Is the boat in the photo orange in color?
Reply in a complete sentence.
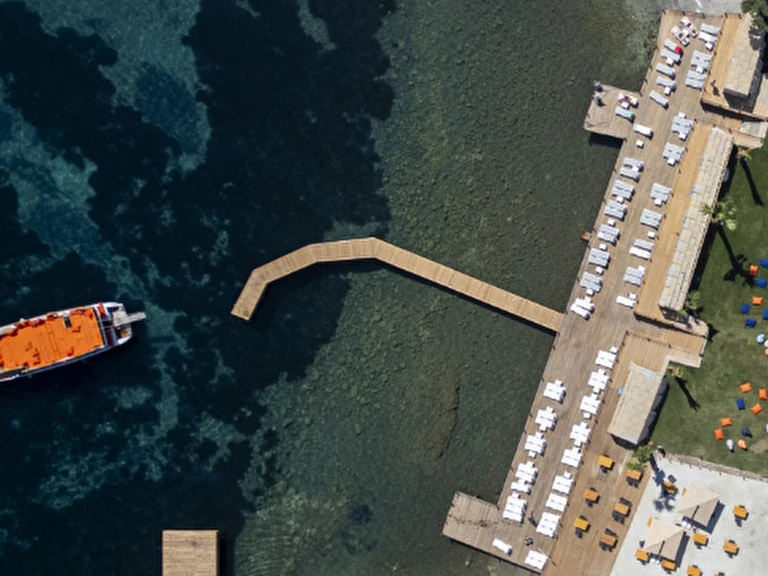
Yes, orange is the color of the boat.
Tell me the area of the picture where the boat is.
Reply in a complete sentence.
You can find the boat in the left area of the picture.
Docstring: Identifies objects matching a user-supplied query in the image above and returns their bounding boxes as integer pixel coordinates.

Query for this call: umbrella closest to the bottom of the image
[644,518,685,560]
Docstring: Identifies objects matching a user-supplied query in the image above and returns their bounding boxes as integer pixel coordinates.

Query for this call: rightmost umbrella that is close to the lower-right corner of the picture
[676,483,719,526]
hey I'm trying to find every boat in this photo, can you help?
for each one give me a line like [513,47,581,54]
[0,299,147,382]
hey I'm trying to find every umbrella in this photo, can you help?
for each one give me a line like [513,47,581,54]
[644,518,685,560]
[676,483,719,526]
